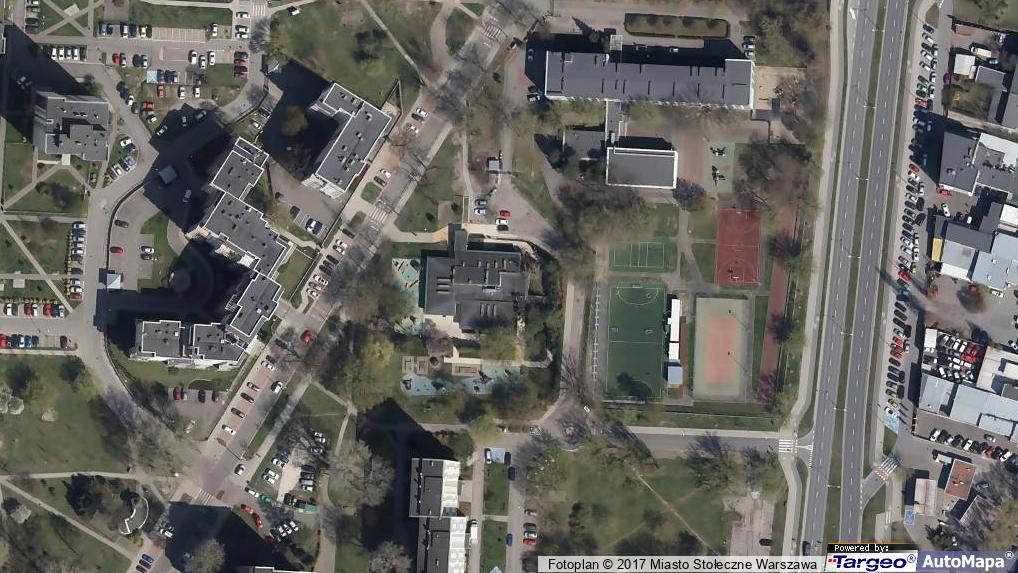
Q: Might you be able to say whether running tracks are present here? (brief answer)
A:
Yes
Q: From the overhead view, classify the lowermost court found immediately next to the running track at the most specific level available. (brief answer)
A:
tennis court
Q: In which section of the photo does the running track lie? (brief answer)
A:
right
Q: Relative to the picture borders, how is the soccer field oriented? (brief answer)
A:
from top to bottom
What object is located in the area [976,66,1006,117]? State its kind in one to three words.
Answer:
house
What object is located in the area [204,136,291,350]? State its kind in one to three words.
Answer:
building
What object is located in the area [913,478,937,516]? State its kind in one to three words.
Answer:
shed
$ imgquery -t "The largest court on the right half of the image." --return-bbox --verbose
[693,297,748,398]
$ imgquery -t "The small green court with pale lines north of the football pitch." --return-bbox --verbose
[609,241,677,271]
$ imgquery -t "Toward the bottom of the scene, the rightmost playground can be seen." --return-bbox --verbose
[458,364,520,394]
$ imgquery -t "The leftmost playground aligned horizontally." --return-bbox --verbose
[402,372,453,396]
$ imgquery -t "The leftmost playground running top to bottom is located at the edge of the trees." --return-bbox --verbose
[391,258,424,337]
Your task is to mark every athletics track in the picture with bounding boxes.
[757,204,800,402]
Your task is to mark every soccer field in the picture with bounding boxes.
[603,283,667,402]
